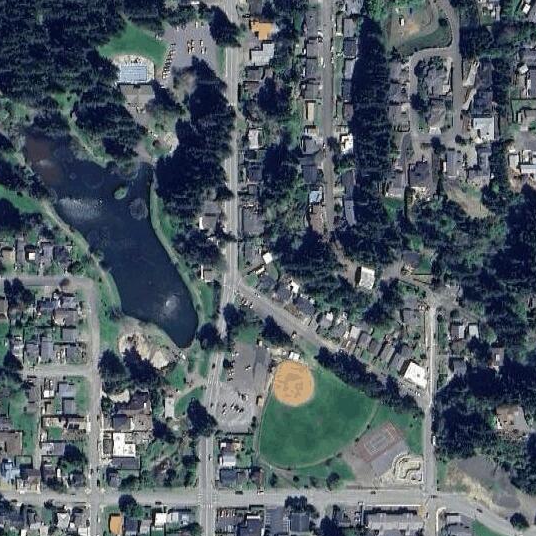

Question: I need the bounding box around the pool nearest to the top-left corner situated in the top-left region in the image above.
[118,66,147,83]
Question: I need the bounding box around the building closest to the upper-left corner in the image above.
[120,84,155,113]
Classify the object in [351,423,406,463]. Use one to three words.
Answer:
basketball court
